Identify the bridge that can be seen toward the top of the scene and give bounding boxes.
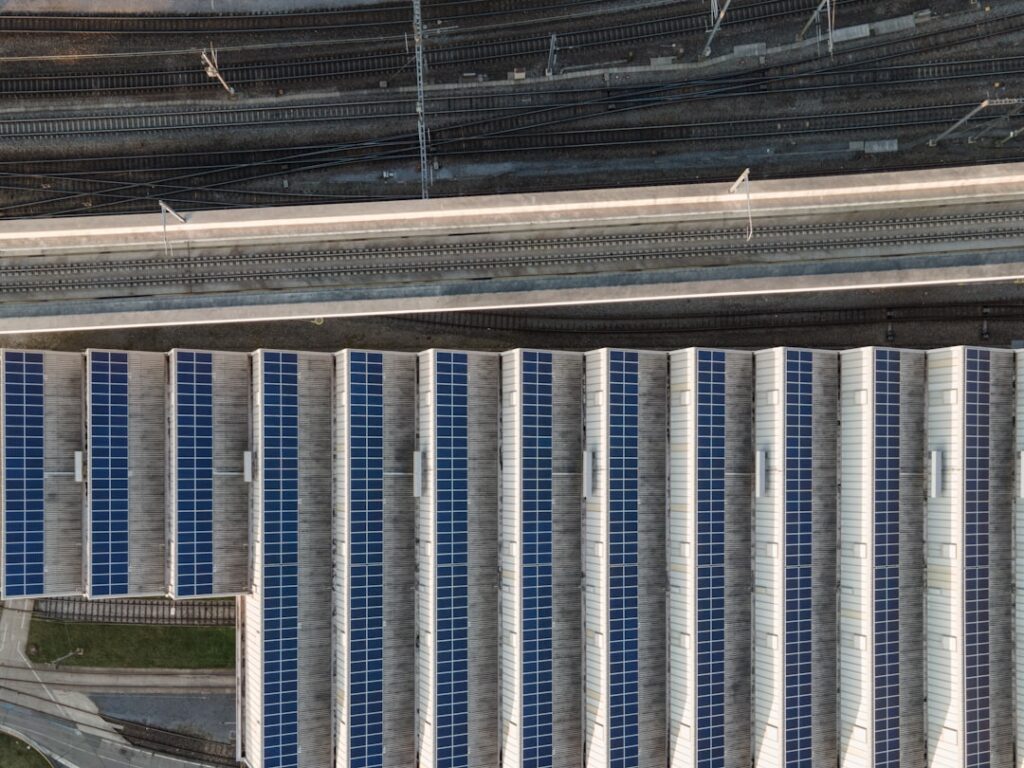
[0,163,1024,334]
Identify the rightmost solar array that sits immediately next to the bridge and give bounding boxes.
[965,349,990,768]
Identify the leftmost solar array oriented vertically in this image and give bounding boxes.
[5,352,77,598]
